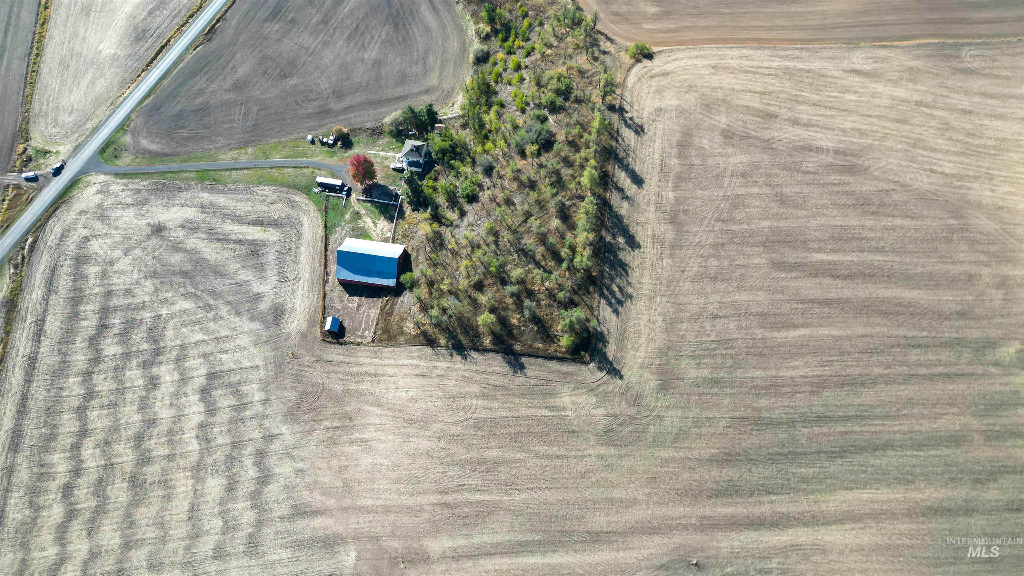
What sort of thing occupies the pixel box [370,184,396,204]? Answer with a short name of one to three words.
building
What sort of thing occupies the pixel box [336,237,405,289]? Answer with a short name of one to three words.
barn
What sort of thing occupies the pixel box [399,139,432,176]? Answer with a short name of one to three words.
house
